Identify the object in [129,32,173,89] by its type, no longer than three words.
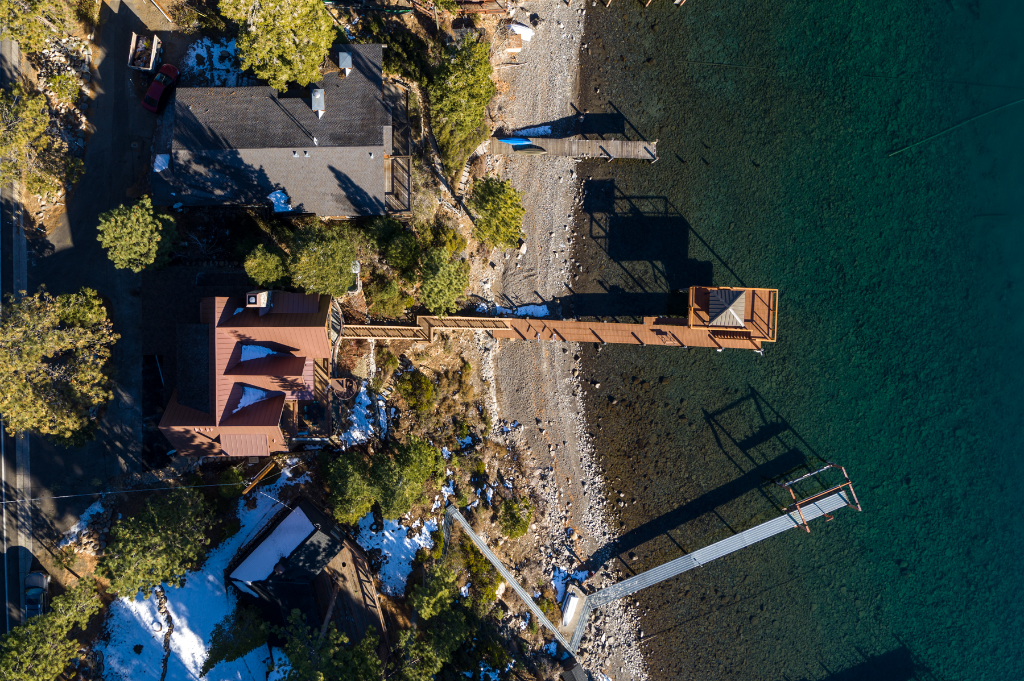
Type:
trailer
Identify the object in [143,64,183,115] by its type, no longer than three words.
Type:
car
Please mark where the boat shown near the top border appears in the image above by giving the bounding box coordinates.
[509,21,534,43]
